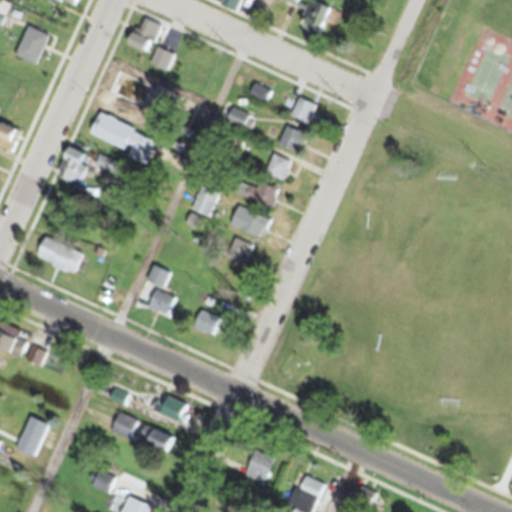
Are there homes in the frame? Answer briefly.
Yes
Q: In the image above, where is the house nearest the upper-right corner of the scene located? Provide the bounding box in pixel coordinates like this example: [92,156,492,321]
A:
[296,0,333,30]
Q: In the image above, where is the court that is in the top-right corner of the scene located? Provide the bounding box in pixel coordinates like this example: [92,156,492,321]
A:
[452,27,512,131]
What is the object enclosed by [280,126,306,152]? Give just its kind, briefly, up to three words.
house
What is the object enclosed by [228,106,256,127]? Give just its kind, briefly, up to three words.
building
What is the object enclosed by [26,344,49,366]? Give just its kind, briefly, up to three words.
building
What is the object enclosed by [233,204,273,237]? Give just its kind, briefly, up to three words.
house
